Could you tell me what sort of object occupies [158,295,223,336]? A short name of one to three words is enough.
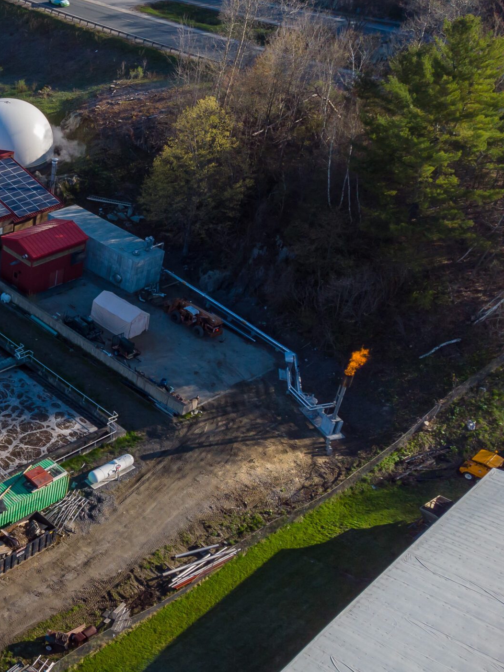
work vehicle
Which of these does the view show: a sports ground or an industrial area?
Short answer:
industrial area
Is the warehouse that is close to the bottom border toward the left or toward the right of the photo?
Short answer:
right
